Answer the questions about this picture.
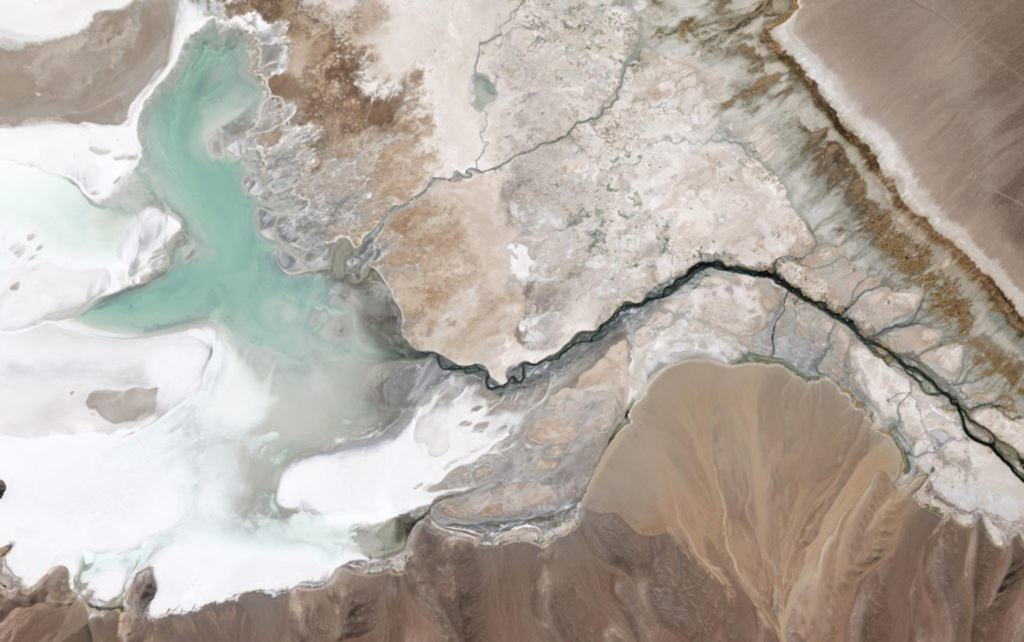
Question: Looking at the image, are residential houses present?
No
